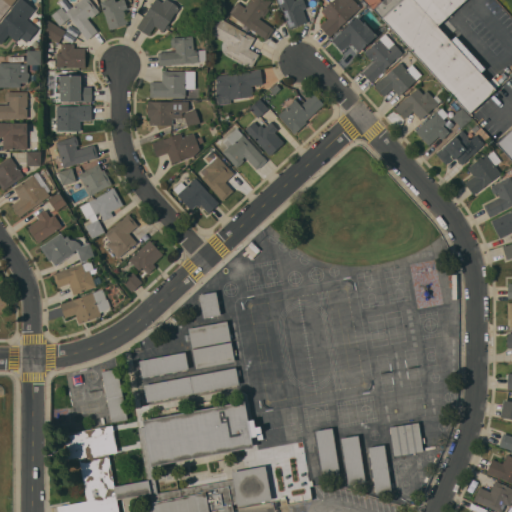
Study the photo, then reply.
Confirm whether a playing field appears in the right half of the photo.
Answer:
Yes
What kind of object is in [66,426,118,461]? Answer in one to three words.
building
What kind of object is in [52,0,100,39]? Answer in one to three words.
house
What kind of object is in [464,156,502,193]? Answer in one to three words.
house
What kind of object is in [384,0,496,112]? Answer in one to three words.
warehouse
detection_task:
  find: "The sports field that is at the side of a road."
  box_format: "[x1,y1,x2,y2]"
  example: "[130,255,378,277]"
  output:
[270,150,440,266]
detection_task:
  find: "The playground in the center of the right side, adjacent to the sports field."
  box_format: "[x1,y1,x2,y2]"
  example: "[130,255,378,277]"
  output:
[410,260,444,310]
